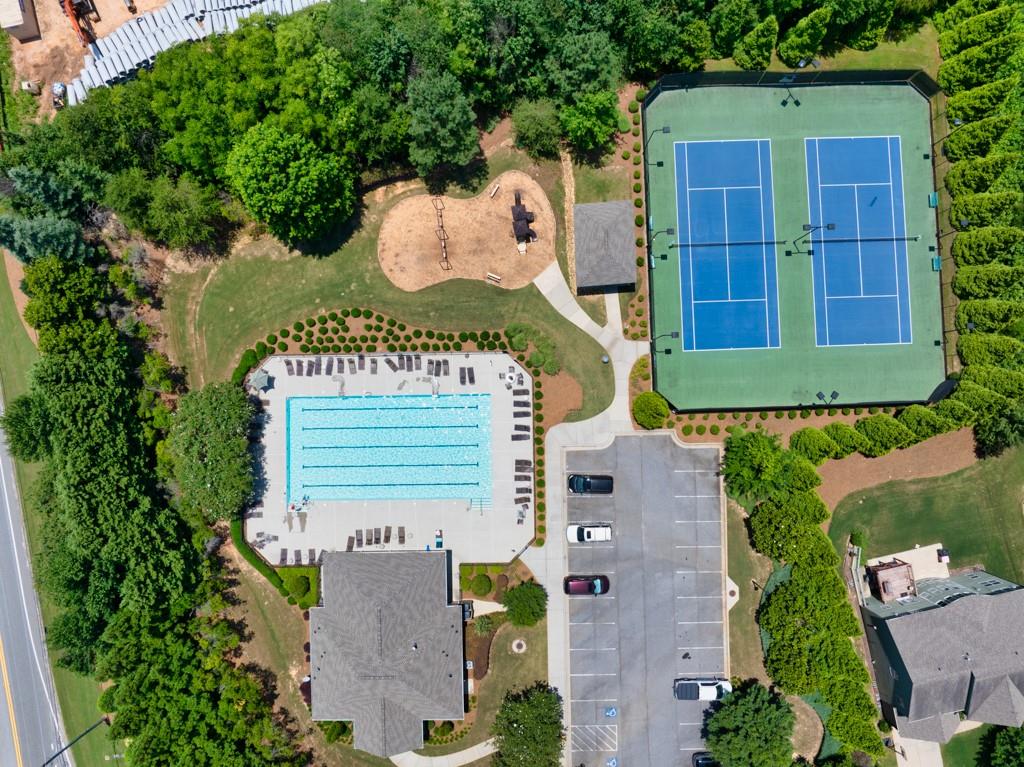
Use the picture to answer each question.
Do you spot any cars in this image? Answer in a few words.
Yes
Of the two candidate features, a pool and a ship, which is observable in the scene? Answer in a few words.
pool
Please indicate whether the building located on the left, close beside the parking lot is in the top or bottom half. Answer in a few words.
bottom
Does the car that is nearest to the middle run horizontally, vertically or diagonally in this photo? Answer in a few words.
horizontally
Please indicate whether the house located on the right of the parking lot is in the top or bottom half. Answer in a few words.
bottom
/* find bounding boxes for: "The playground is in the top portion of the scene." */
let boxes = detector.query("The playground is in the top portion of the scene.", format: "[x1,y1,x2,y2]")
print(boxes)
[379,171,556,291]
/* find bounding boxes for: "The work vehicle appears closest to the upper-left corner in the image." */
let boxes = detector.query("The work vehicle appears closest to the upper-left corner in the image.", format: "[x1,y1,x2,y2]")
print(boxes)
[61,0,98,51]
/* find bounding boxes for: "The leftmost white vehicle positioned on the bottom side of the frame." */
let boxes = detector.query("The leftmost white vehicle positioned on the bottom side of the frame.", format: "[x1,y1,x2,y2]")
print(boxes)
[568,526,611,546]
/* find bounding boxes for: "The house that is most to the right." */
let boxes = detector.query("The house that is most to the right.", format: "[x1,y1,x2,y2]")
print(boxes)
[859,557,1024,746]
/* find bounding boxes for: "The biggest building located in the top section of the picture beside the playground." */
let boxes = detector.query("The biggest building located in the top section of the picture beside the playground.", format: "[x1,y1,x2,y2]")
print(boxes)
[573,201,637,288]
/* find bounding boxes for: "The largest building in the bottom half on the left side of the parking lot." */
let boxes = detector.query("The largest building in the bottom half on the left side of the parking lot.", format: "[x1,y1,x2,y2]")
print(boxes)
[309,551,465,761]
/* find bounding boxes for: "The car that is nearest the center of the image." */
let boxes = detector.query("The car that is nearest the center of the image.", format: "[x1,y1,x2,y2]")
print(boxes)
[568,474,614,496]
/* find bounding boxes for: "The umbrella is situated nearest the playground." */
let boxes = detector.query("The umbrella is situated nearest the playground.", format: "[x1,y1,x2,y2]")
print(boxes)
[250,369,271,390]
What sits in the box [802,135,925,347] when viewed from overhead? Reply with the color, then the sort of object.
blue tennis court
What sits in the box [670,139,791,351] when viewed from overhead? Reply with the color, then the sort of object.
blue tennis court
